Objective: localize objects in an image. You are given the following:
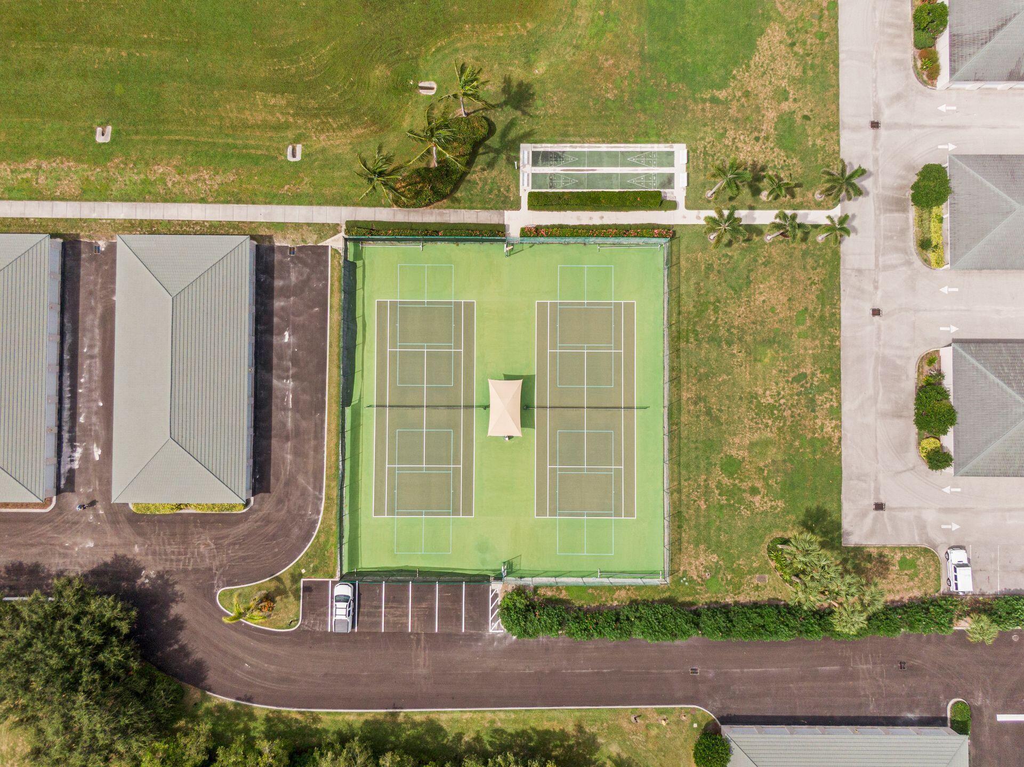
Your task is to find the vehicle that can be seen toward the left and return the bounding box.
[333,580,356,633]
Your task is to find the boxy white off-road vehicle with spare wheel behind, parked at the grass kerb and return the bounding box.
[946,548,974,595]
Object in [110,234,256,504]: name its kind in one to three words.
building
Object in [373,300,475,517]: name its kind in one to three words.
tennis court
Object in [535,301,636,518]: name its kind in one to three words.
tennis court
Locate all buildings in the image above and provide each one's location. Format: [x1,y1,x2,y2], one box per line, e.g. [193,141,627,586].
[0,233,64,503]
[939,342,1024,477]
[938,154,1024,271]
[936,0,1024,89]
[722,726,969,767]
[110,234,256,504]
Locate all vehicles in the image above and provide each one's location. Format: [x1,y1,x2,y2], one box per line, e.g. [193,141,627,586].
[946,548,974,595]
[333,580,356,633]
